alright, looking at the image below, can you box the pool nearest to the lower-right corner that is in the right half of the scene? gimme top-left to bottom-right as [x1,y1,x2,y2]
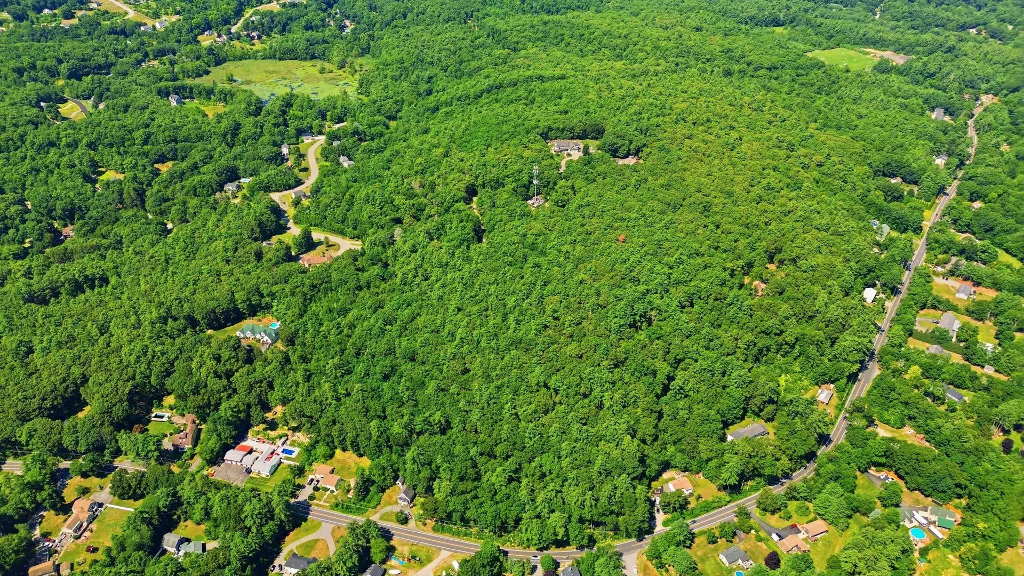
[909,526,927,540]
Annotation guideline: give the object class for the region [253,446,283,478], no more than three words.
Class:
building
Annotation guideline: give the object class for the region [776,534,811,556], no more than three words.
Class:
house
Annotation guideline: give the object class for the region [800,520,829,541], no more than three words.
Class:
house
